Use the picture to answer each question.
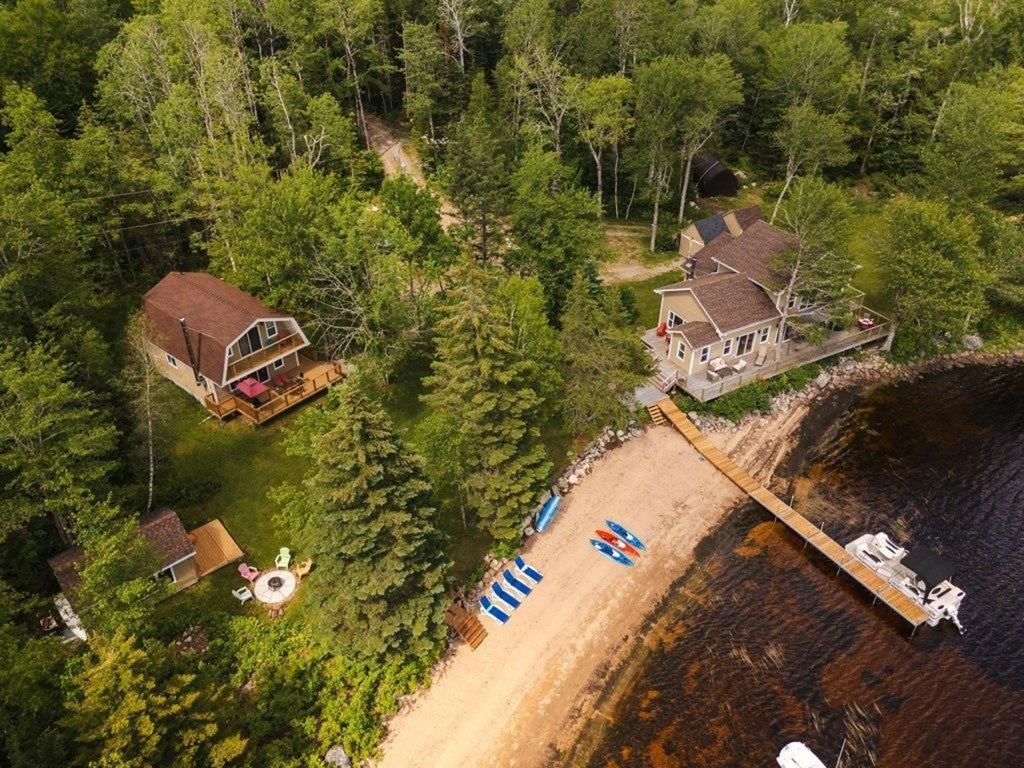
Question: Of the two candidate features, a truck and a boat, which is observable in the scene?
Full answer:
Of the two, only a boat appears.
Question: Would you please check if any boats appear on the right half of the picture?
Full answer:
Yes, there is a boat on the right half of the picture.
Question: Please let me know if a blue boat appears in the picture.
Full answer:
Yes, this view includes a blue boat.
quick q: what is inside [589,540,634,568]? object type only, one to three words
boat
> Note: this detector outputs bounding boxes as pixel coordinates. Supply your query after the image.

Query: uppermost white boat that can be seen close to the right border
[840,532,974,638]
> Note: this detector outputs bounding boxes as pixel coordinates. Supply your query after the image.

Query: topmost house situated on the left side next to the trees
[136,273,346,430]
